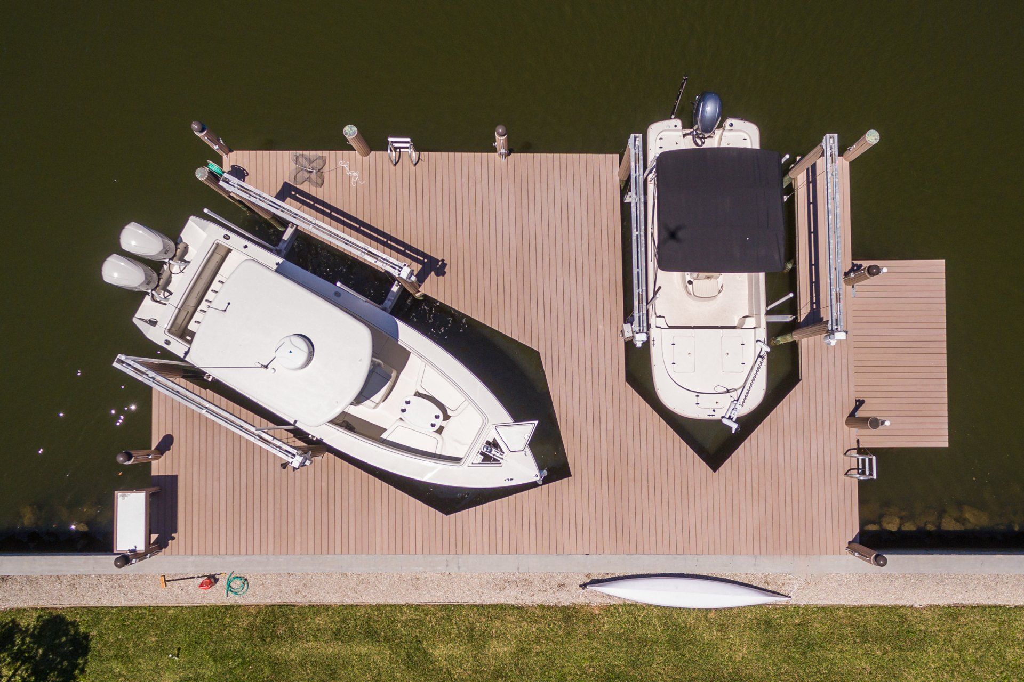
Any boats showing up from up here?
Yes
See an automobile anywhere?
No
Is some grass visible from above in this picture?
Yes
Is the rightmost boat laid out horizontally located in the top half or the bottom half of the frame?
bottom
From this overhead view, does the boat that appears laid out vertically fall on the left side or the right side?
right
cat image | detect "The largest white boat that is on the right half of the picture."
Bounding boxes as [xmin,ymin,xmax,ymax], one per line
[646,75,784,433]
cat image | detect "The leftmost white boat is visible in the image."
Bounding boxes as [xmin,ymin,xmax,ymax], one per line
[100,217,547,489]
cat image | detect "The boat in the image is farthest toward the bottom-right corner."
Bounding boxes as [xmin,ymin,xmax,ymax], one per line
[579,576,798,610]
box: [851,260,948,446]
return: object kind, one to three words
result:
pier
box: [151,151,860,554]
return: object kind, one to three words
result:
pier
